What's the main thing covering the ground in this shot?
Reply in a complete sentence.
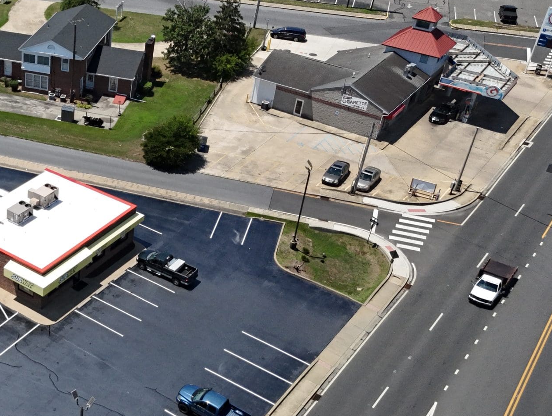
The largest share of the image is taken up by paved ground.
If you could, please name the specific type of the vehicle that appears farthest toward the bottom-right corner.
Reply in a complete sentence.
I'd say the vehicle that appears farthest toward the bottom-right corner is a truck.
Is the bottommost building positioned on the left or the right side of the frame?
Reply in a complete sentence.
It is on the left.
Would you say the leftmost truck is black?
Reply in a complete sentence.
Yes, black is the color of the leftmost truck.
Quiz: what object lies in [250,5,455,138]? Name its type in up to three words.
building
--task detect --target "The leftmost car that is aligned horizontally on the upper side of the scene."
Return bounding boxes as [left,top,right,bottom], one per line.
[268,27,308,45]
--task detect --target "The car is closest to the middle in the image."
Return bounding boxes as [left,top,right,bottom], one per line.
[319,160,353,189]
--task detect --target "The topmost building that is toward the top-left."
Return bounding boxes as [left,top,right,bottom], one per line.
[0,3,154,101]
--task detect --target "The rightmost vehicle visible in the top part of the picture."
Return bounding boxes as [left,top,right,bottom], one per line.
[497,5,519,25]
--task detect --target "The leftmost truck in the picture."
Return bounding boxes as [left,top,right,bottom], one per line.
[135,251,206,291]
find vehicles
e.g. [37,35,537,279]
[170,384,255,416]
[135,251,206,291]
[497,5,519,25]
[351,166,385,194]
[464,254,525,313]
[268,27,308,45]
[426,99,459,126]
[319,160,353,189]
